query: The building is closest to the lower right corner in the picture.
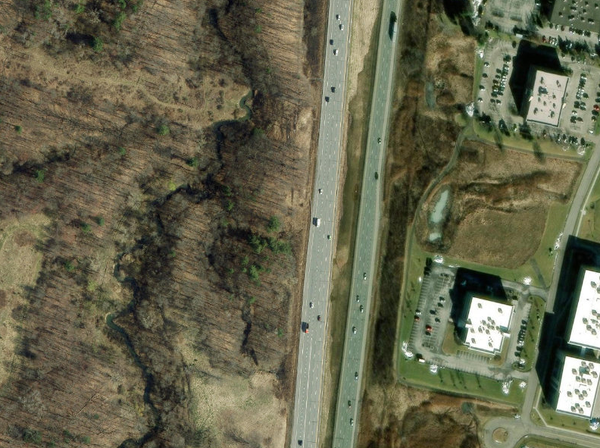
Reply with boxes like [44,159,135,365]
[549,351,600,420]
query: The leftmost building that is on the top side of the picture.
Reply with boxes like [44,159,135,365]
[521,66,569,128]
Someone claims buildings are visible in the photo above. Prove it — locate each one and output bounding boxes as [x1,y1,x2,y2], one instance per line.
[562,264,600,350]
[459,293,514,354]
[521,66,569,128]
[546,0,600,33]
[549,351,600,420]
